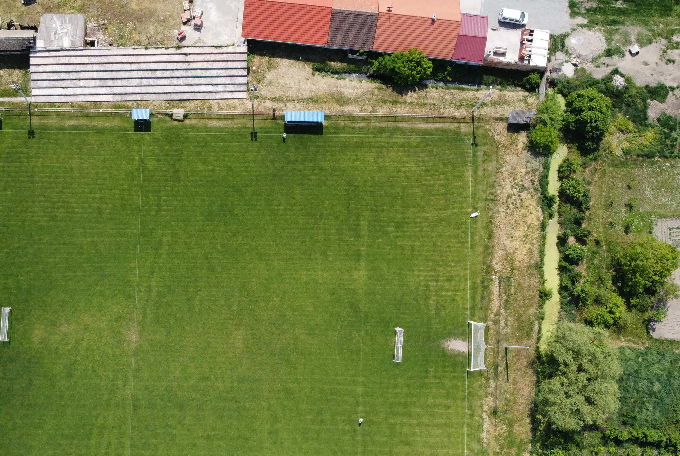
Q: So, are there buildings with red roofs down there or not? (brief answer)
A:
Yes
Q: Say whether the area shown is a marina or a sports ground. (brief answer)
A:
sports ground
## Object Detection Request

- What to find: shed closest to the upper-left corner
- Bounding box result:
[0,30,37,54]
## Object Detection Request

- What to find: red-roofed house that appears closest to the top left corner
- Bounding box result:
[242,0,332,52]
